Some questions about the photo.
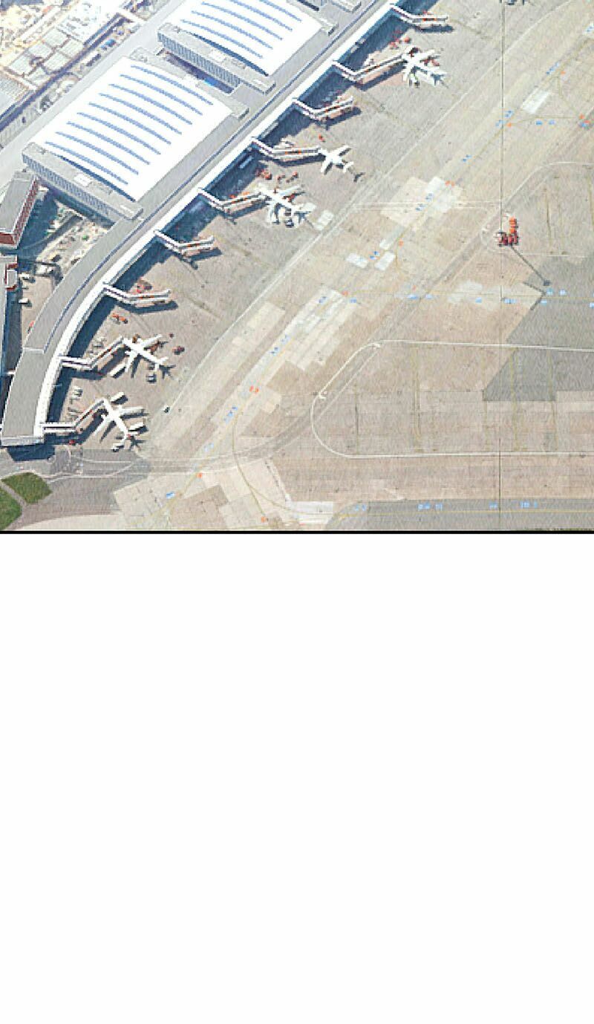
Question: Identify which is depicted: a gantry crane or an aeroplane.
aeroplane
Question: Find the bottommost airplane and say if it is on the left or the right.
left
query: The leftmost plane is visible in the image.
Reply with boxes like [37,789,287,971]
[95,399,145,440]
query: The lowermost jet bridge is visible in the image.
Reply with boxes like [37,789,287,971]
[44,399,108,438]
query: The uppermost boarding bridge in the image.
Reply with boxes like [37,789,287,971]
[391,7,449,31]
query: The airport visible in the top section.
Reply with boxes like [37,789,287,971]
[0,0,594,531]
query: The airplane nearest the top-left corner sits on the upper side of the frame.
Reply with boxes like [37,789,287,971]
[258,187,305,220]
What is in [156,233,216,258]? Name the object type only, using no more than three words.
jet bridge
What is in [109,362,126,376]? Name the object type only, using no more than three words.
vehicle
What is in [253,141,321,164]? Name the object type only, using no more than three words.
jet bridge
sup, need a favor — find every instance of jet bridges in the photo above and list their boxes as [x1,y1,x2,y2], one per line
[44,399,108,438]
[334,56,405,84]
[253,141,321,164]
[104,287,172,308]
[156,233,216,258]
[199,193,265,216]
[391,7,449,31]
[63,337,126,372]
[293,99,355,125]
